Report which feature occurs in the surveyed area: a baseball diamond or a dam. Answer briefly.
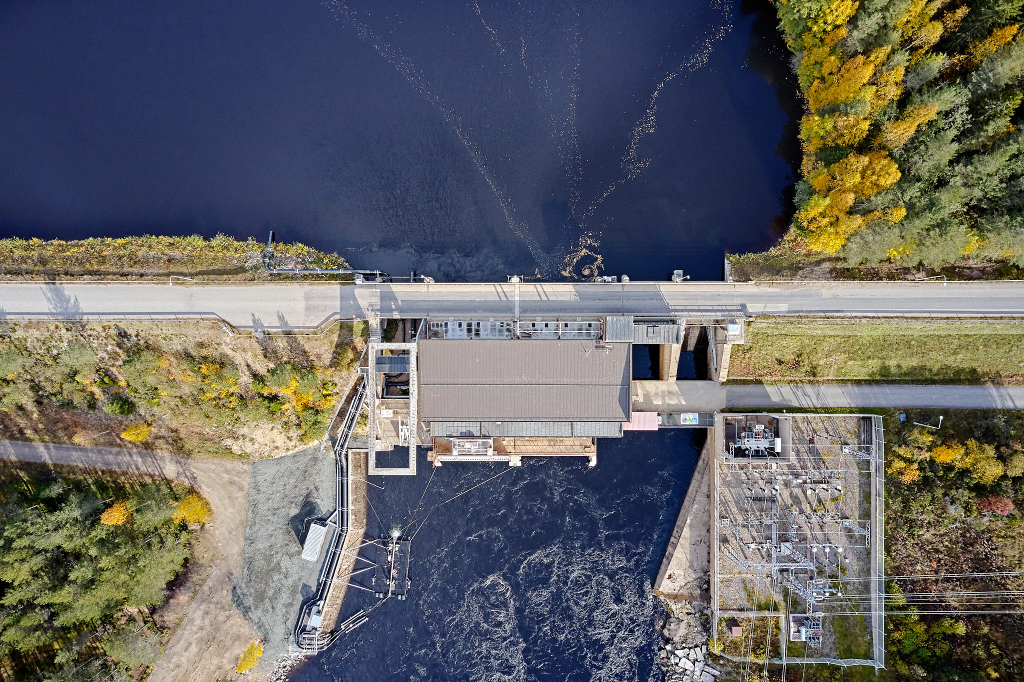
dam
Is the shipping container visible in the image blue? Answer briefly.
No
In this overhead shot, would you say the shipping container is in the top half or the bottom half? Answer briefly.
bottom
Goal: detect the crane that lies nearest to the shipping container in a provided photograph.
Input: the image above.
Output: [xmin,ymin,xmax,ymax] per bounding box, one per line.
[452,437,493,456]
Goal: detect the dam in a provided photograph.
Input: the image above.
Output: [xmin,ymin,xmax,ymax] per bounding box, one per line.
[356,253,760,340]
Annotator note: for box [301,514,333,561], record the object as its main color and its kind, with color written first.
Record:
white shipping container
